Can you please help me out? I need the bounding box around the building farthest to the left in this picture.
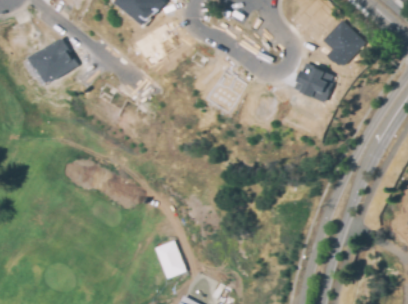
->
[30,38,82,82]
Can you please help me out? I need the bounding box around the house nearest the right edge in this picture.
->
[326,20,369,64]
